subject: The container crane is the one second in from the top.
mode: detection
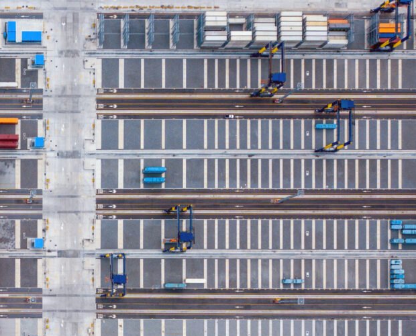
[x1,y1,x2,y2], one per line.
[250,41,287,96]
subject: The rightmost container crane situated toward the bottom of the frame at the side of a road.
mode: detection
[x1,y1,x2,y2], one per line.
[162,206,195,252]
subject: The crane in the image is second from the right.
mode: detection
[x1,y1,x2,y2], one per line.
[314,100,355,151]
